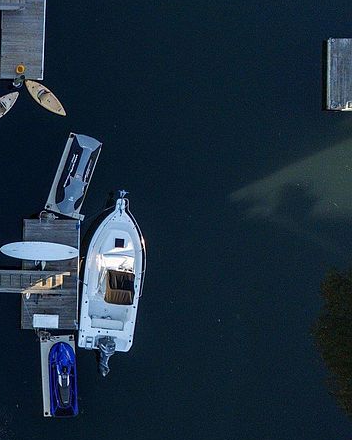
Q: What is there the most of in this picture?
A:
water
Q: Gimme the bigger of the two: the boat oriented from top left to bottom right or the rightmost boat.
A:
the rightmost boat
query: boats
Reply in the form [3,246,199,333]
[24,80,67,115]
[78,190,150,379]
[49,340,78,417]
[0,93,20,117]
